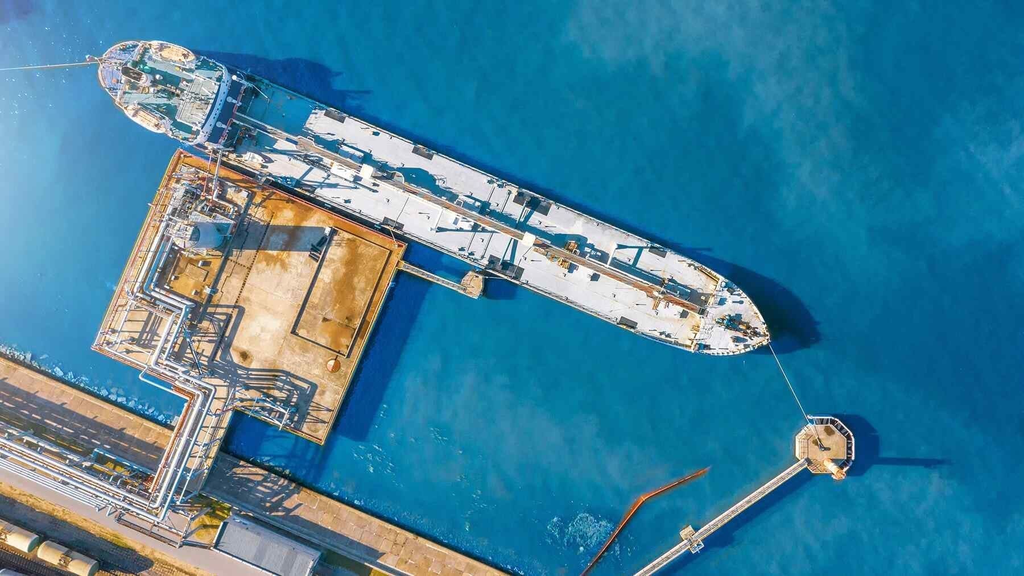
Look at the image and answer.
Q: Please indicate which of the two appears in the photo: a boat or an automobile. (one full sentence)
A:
Looking from above, you can make out a boat.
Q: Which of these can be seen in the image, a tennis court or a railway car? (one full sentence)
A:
I can see a railway car in this picture.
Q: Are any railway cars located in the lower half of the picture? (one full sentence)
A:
Yes, you'll find a railway car in the lower half of the picture.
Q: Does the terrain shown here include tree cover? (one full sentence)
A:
No, there is no tree cover in the image.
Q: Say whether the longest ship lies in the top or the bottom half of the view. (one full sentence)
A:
The longest ship is in the top half of the image.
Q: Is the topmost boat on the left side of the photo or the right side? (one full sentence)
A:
The topmost boat appears in the left half of the scene.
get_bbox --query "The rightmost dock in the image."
[678,524,704,560]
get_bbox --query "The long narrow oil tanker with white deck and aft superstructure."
[80,38,772,353]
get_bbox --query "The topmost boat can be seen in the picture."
[148,39,197,65]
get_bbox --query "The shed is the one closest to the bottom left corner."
[216,508,326,576]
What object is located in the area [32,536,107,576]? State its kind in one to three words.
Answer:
rail car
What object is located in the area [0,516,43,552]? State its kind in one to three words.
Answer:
rail car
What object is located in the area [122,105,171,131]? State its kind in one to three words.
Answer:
boat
